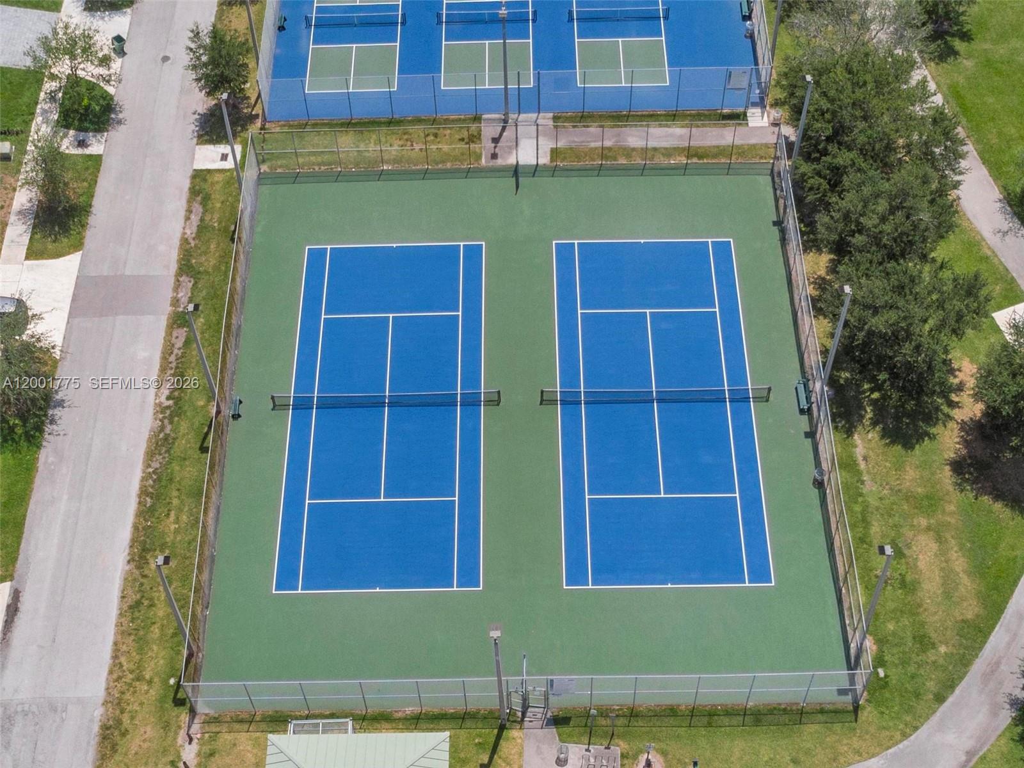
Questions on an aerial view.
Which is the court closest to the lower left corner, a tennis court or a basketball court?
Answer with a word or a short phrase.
tennis court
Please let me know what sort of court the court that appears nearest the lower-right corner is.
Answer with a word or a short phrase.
tennis court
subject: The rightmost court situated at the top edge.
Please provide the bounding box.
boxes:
[574,0,668,86]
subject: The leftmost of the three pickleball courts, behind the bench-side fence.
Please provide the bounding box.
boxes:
[306,0,401,91]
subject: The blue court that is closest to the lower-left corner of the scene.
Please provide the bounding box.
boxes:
[272,242,486,593]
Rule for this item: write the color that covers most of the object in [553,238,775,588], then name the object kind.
blue tennis court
